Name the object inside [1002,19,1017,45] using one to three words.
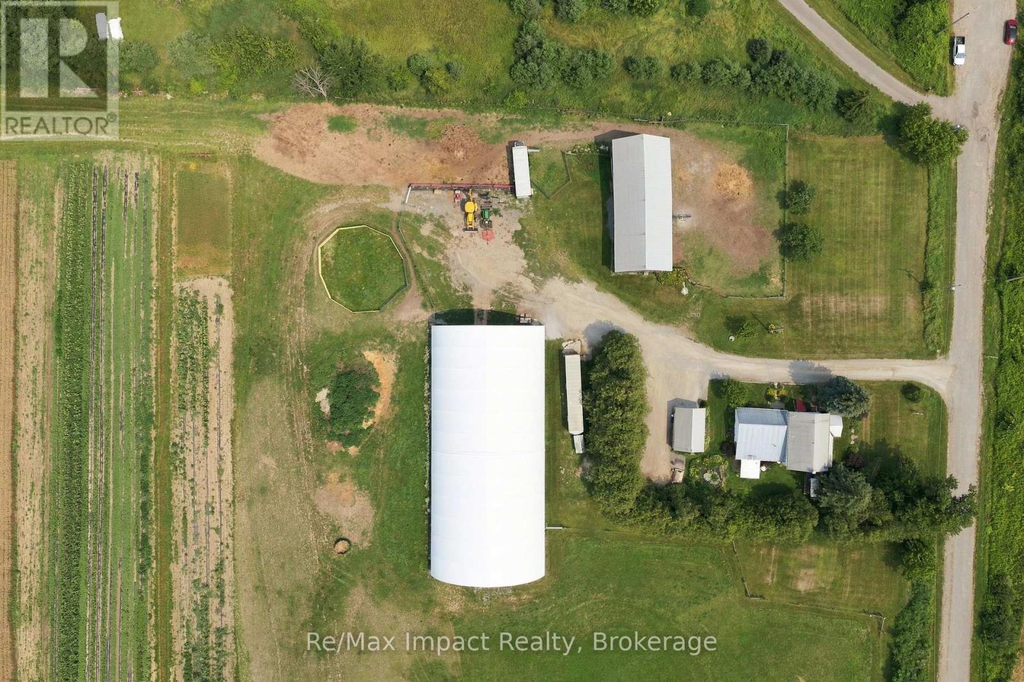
car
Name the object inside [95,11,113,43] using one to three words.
shed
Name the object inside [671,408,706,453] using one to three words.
building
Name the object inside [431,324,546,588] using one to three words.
barn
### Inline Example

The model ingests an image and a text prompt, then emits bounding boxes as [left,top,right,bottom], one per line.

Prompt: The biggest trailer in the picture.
[564,354,584,437]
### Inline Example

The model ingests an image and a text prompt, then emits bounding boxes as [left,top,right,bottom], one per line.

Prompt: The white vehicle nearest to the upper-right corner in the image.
[952,35,967,67]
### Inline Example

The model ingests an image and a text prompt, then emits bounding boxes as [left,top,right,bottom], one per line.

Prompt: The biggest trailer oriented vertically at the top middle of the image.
[513,142,537,200]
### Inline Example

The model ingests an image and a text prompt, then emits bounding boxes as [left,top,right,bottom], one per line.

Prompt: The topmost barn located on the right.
[610,133,673,277]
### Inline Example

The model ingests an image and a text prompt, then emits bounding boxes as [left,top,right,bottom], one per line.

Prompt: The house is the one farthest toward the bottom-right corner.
[733,408,842,479]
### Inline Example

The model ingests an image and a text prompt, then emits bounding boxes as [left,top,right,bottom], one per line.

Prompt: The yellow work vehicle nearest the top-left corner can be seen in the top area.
[463,188,478,232]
